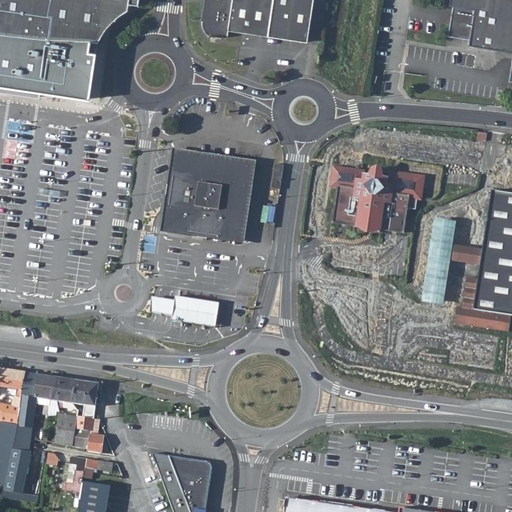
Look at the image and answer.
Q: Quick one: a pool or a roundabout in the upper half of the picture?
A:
roundabout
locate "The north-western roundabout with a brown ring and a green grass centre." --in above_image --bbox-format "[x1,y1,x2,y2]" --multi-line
[121,34,196,116]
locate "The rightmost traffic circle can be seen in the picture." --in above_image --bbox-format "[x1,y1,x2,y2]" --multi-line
[272,80,337,143]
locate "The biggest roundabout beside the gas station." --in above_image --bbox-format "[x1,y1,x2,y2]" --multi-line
[211,338,317,444]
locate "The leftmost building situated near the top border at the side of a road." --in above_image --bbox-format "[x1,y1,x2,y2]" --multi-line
[0,0,138,102]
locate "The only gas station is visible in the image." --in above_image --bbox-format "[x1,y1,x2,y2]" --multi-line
[152,294,220,326]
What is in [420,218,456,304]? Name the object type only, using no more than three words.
greenhouse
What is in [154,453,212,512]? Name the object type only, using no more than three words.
building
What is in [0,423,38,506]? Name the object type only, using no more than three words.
building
